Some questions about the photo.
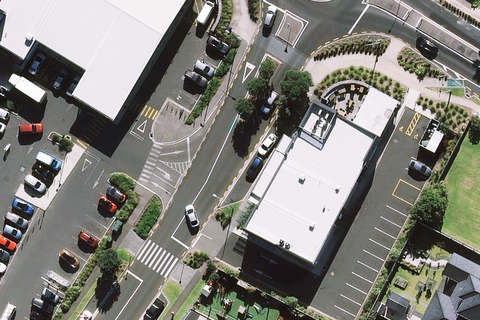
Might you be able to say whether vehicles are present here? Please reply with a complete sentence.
Yes, a vehicle is visible in the scene.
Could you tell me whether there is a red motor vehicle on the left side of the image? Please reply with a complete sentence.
Yes, a red motor vehicle is visible on the left side of the image.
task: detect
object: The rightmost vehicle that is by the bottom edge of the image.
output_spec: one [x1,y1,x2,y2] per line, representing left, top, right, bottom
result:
[144,298,164,320]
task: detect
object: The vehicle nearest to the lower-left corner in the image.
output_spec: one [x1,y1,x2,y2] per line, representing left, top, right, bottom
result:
[0,302,16,320]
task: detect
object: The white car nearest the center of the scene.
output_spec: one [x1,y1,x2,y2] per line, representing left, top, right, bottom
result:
[258,132,276,156]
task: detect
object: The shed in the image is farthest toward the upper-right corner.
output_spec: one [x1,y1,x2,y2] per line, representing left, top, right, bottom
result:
[418,119,444,154]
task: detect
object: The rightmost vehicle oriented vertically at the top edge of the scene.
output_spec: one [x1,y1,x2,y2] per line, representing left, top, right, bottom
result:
[262,7,276,29]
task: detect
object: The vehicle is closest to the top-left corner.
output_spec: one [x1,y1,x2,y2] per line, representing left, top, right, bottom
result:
[28,52,46,76]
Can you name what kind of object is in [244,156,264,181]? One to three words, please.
car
